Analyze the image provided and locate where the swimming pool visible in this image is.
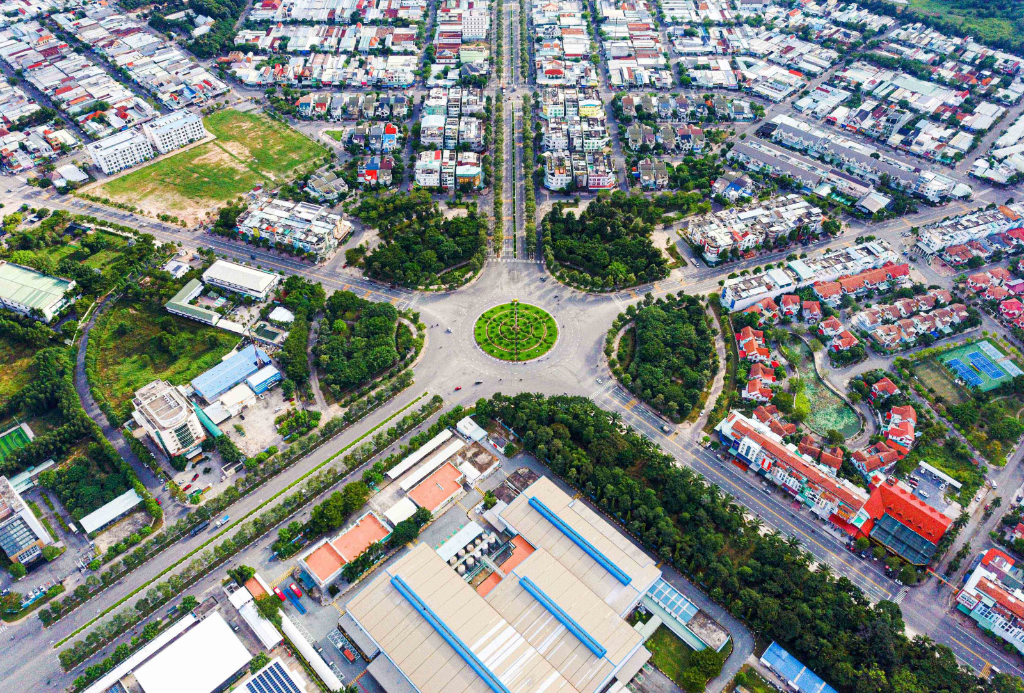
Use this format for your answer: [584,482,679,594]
[246,321,285,345]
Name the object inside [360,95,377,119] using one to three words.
house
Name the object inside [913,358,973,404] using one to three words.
sports field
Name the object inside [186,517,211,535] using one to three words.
vehicle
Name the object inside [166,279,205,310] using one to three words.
building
